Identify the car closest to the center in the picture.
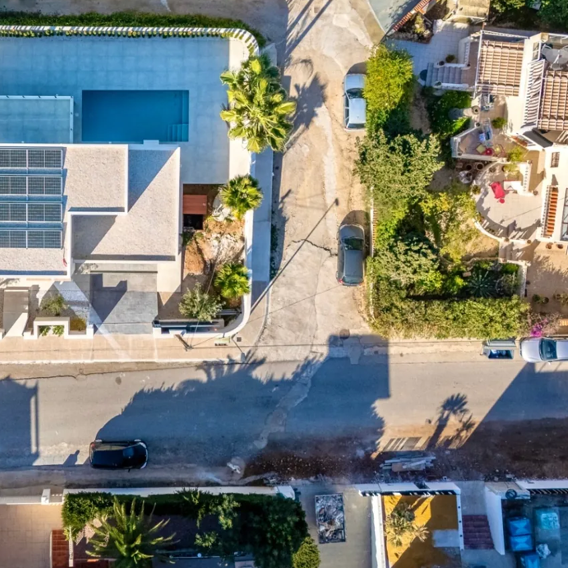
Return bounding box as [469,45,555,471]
[334,223,367,287]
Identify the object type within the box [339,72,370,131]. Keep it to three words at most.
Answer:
car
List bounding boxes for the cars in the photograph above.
[516,335,568,366]
[334,223,367,287]
[91,439,147,472]
[339,72,370,131]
